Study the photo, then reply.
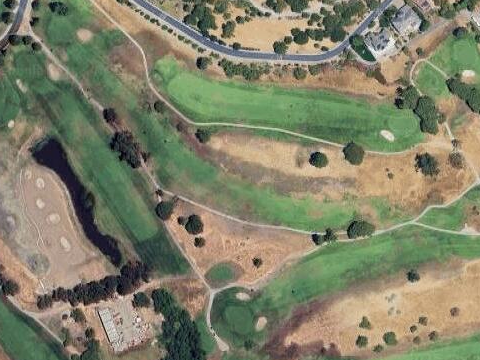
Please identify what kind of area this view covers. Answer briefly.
golf course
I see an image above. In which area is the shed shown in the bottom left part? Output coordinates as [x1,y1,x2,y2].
[99,307,120,344]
